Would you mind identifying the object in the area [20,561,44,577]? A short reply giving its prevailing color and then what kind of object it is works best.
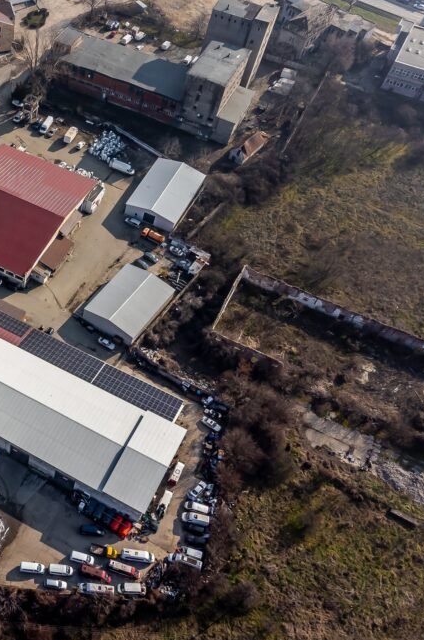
white vehicle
